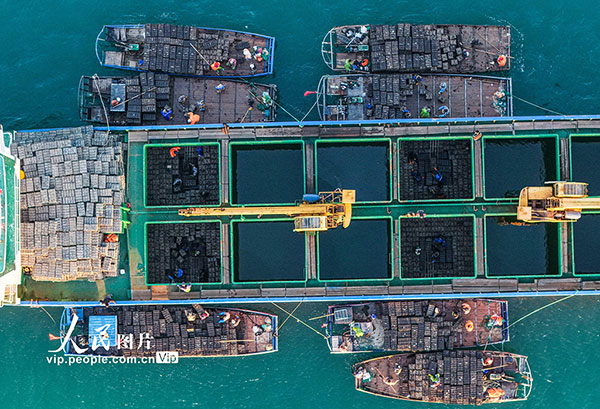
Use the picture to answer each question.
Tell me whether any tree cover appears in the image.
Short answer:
No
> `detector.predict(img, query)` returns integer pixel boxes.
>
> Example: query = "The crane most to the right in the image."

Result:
[516,180,600,224]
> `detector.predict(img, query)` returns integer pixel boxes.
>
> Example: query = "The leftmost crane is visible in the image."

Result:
[178,189,357,231]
